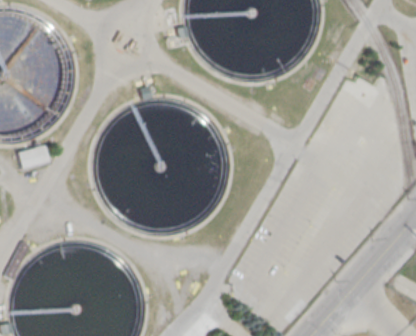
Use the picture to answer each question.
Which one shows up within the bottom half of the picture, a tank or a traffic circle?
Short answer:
tank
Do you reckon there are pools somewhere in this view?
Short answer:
No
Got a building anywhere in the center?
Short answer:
No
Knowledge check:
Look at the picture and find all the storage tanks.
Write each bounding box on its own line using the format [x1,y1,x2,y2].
[180,0,324,86]
[88,93,232,240]
[0,0,78,147]
[4,236,149,336]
